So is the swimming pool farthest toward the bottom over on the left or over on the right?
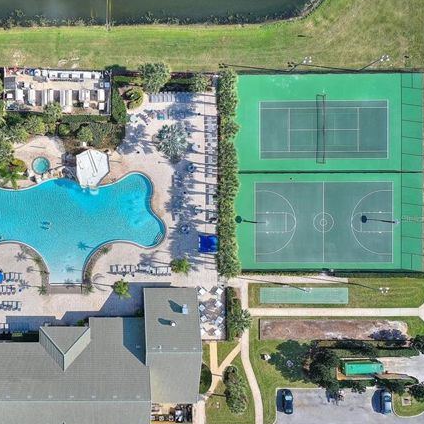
left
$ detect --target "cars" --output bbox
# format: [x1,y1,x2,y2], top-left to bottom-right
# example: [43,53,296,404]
[282,388,295,414]
[379,390,393,414]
